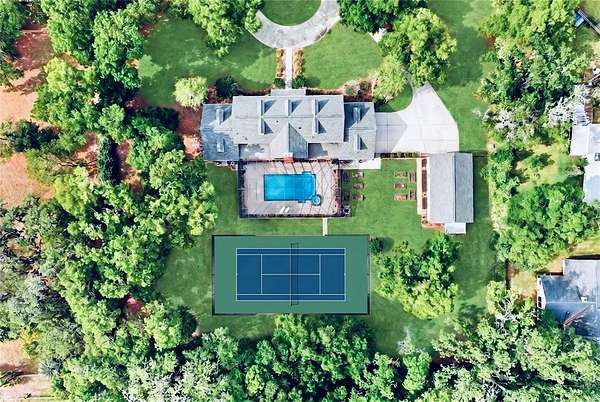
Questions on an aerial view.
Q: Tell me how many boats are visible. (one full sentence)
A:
There are no boats in this view.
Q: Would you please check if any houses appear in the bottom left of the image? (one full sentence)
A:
No, the scene shows no house in the bottom left of the image.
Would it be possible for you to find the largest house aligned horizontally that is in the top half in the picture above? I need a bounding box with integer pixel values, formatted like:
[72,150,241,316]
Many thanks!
[199,89,379,164]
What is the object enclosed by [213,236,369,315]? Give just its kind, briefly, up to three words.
tennis court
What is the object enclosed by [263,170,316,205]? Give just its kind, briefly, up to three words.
swimming pool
